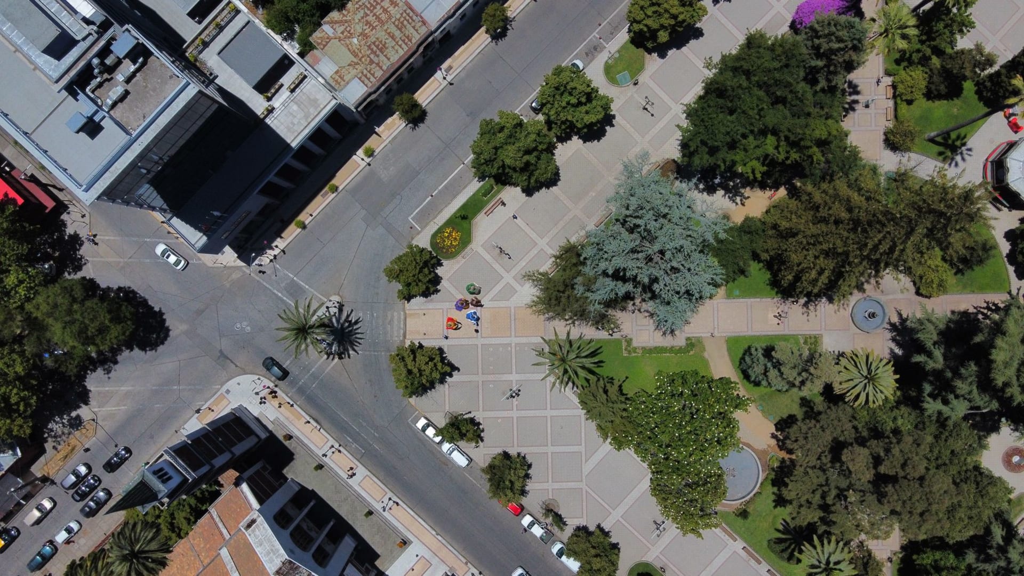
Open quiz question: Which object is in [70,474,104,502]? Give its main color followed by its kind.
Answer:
black car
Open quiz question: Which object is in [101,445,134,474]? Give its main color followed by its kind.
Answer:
black car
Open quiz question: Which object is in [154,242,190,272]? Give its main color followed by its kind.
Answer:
white car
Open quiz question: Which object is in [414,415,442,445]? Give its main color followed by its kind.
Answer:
white car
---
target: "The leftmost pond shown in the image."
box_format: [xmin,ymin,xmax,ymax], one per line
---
[701,445,762,506]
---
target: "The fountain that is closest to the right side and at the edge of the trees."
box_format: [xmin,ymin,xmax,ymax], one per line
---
[850,297,889,333]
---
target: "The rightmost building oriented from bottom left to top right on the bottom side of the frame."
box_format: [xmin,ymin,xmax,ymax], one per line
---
[98,404,270,513]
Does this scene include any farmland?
No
